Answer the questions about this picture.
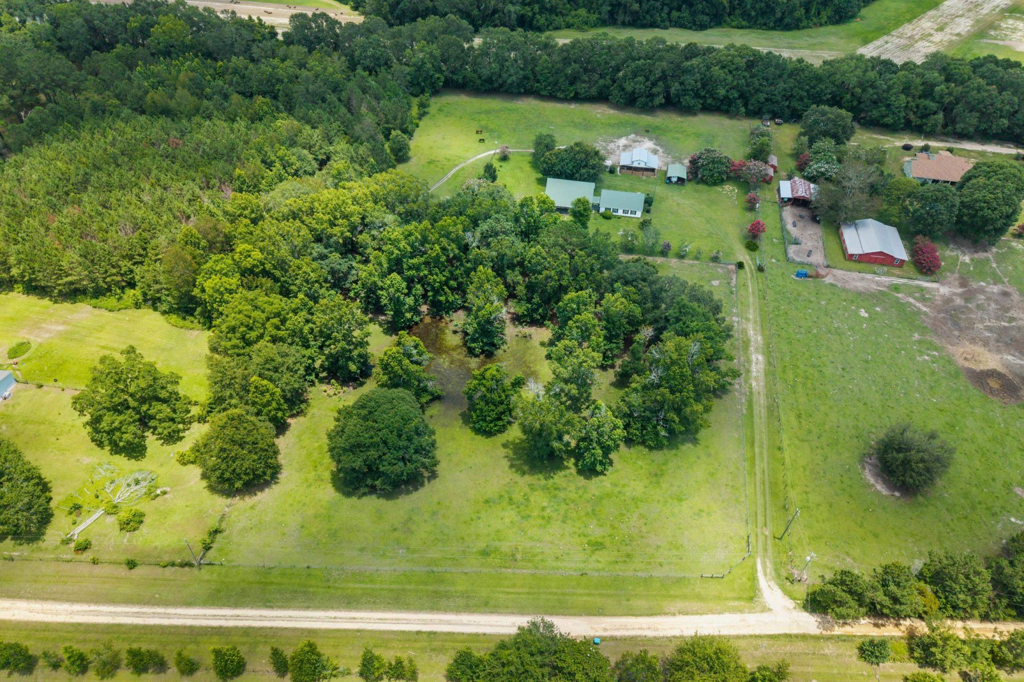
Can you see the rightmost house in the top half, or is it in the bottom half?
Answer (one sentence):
It is in the top half that the rightmost house appears.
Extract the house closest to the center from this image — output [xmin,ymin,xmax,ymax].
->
[542,172,644,217]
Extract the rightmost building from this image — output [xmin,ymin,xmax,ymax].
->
[904,149,984,189]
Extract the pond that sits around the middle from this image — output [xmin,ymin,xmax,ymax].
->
[409,317,545,427]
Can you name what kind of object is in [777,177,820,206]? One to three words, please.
barn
